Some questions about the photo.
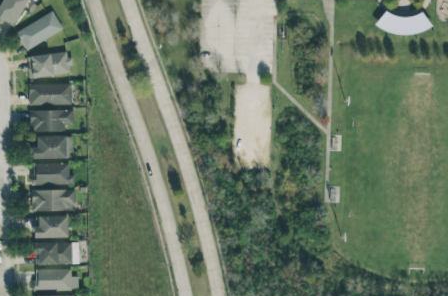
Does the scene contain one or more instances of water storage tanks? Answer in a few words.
No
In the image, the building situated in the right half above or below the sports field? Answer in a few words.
above it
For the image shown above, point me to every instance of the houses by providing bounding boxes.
[32,190,76,212]
[32,163,74,186]
[30,52,72,78]
[34,136,73,158]
[0,0,28,27]
[37,242,80,265]
[34,216,68,239]
[30,83,72,105]
[30,110,74,132]
[18,10,63,52]
[34,270,79,291]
